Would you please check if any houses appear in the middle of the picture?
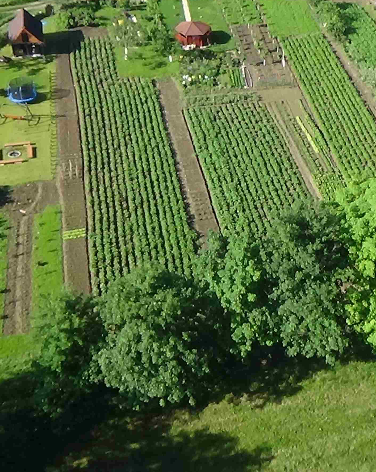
No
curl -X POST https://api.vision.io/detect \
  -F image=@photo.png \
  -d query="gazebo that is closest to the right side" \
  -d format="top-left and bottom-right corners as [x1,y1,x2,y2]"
[174,20,212,52]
